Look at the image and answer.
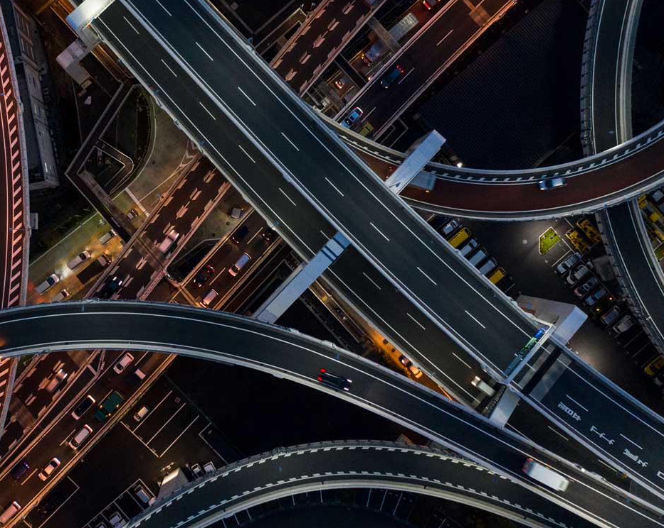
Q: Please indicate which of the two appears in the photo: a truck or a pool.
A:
truck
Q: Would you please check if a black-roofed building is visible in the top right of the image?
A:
Yes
